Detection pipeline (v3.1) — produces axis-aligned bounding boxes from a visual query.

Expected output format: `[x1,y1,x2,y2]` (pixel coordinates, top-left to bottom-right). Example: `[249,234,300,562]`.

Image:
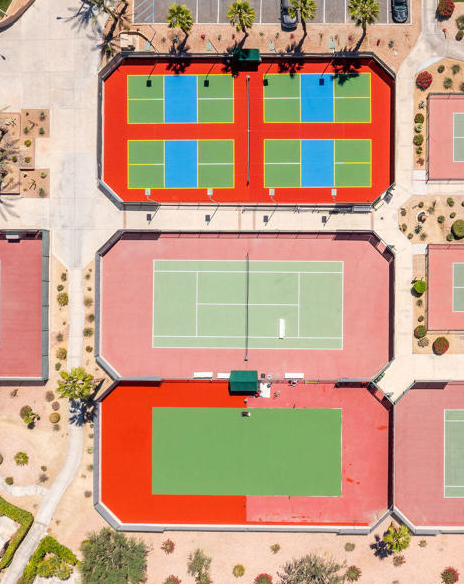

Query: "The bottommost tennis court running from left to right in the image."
[100,380,392,525]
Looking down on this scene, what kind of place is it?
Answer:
sports ground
